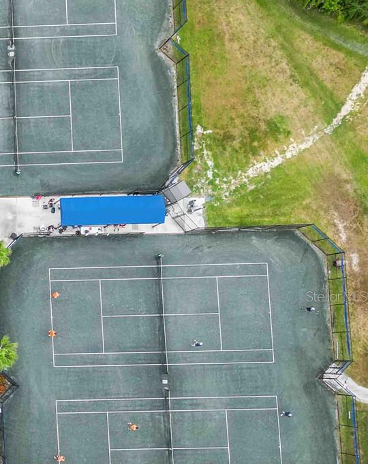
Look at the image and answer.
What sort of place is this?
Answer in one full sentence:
The area seen from above is a sports ground.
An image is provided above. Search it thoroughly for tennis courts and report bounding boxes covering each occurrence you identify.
[6,377,341,464]
[0,48,179,195]
[0,0,172,50]
[0,231,330,385]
